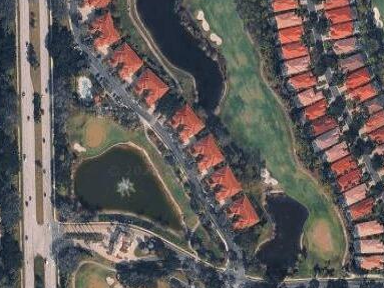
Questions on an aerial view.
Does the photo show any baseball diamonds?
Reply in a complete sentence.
No, the frame has no baseball diamond in it.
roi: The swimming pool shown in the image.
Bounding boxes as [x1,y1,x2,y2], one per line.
[77,76,92,99]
